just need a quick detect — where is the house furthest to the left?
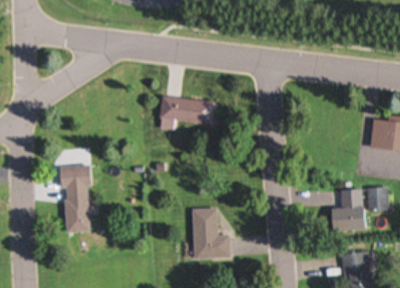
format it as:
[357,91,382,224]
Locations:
[60,166,92,232]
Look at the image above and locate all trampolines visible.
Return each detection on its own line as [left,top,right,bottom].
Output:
[108,165,119,176]
[374,216,387,229]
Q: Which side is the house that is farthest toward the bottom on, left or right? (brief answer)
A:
right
